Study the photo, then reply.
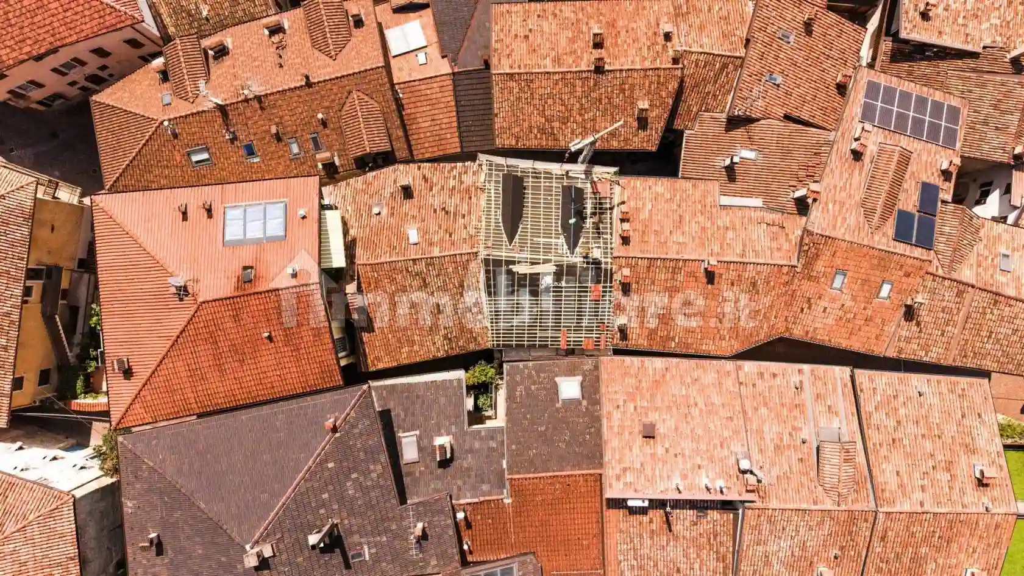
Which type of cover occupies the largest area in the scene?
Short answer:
buildings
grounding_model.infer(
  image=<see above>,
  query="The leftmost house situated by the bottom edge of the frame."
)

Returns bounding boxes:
[0,440,124,576]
